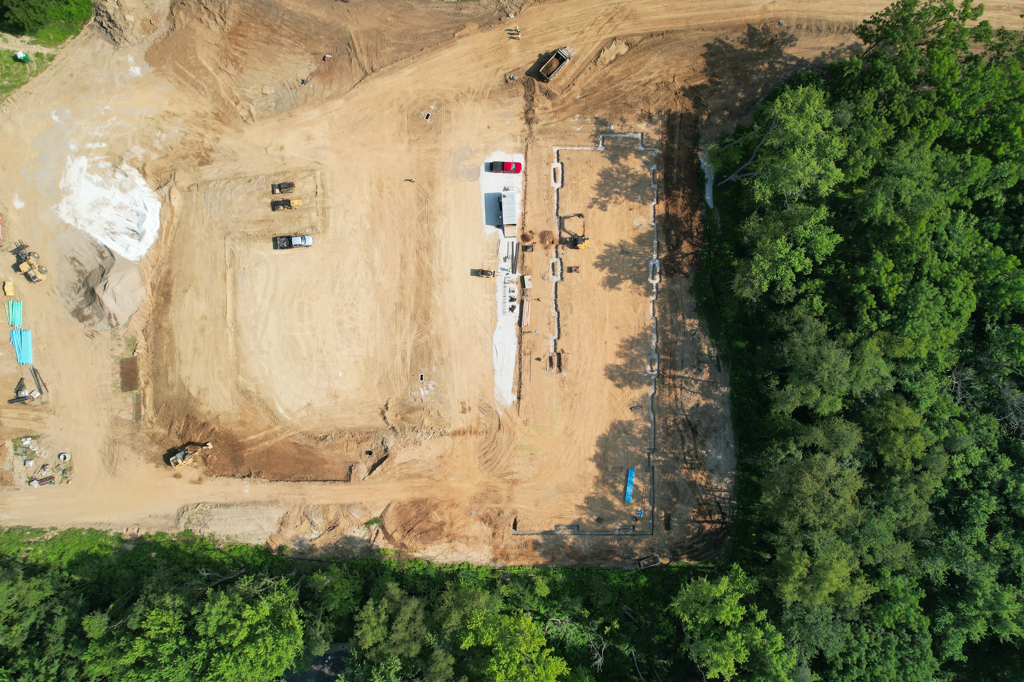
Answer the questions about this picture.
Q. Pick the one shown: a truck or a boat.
truck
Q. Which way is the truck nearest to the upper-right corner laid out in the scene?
at an angle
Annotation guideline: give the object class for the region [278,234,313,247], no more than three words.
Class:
vehicle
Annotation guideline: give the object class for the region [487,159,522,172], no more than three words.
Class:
vehicle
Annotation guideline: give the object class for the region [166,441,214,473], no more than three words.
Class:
work vehicle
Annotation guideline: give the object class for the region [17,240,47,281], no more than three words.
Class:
work vehicle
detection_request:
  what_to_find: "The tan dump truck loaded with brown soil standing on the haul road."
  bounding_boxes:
[539,39,577,83]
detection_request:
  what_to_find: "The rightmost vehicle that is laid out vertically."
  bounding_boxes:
[573,211,591,252]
